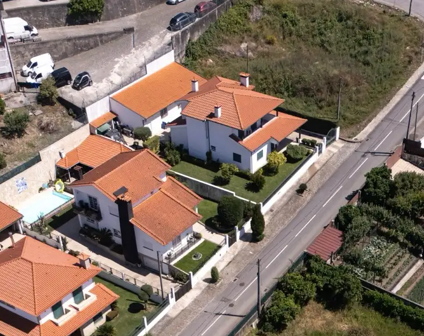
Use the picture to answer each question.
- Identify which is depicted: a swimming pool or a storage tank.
swimming pool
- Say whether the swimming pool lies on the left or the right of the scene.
left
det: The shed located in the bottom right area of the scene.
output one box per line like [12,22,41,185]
[307,225,344,267]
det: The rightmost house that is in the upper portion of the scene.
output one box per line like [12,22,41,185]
[165,68,309,174]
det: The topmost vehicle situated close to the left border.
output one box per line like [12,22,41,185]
[0,13,43,39]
